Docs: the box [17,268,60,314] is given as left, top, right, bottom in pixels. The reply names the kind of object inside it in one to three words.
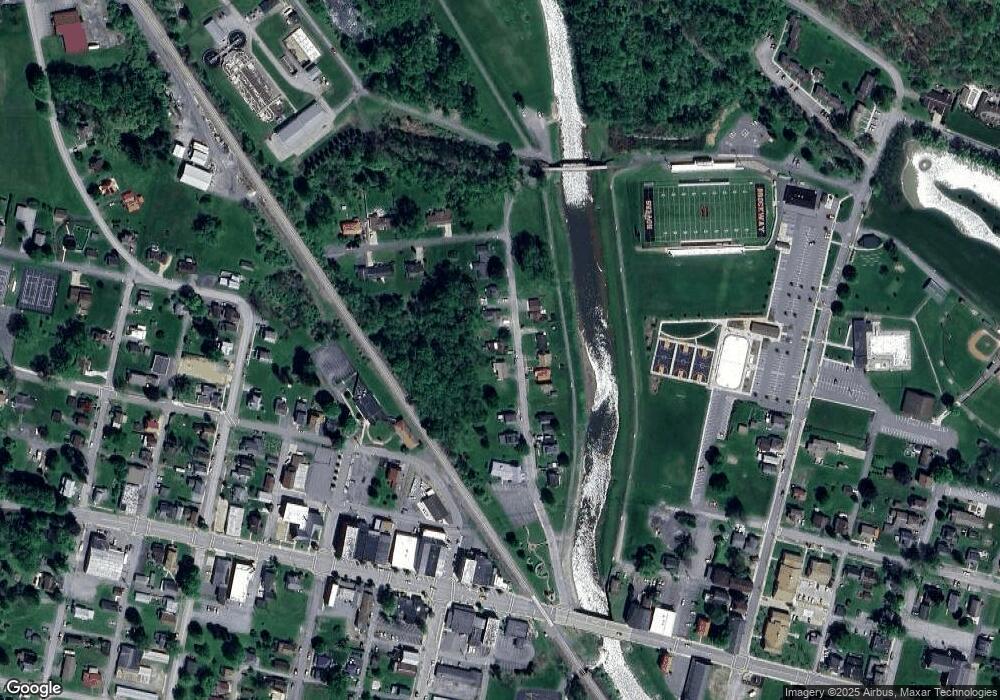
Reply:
tennis court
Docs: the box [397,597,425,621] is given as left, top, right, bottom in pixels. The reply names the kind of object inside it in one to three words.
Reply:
building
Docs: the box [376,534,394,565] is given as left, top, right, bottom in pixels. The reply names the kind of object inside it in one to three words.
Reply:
building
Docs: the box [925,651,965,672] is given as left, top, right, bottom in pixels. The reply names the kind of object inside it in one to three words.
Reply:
house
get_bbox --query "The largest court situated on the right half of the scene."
[715,333,749,389]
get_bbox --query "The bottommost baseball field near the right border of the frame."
[941,301,1000,396]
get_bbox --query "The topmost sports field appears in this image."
[631,176,778,248]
